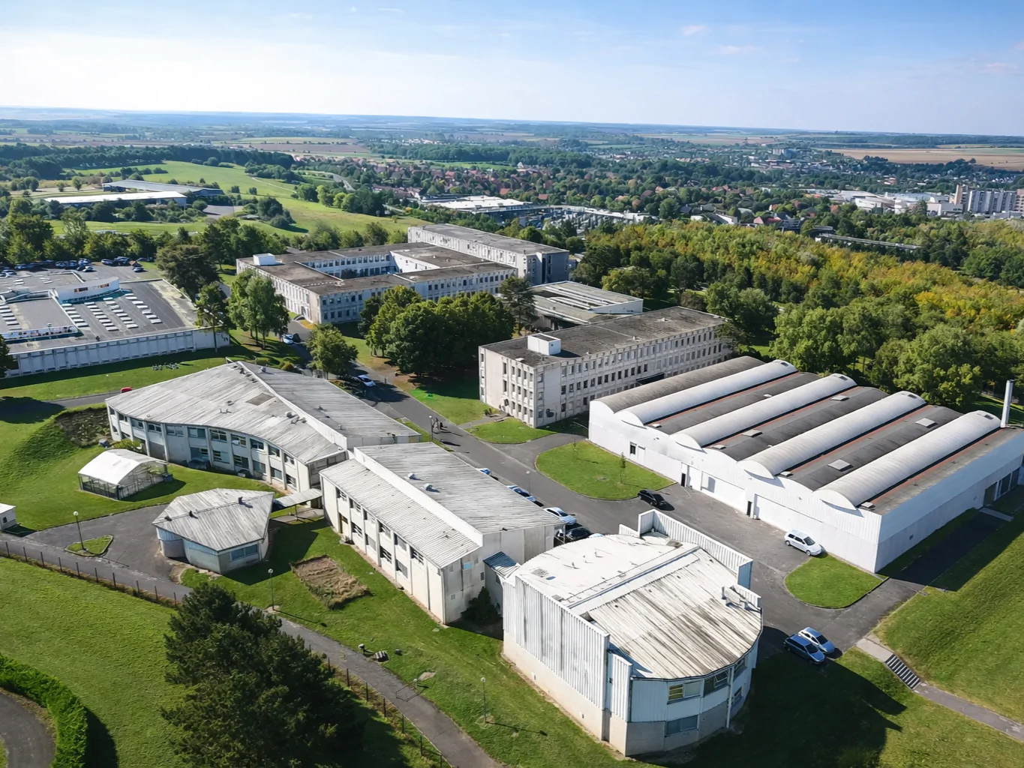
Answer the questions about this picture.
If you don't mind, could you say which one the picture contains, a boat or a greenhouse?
greenhouse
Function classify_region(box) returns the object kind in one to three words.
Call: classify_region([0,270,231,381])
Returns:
building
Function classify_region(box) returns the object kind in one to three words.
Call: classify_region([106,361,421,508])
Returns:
building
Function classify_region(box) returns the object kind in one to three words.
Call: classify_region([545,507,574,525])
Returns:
car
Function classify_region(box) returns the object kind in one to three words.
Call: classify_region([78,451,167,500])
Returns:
greenhouse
